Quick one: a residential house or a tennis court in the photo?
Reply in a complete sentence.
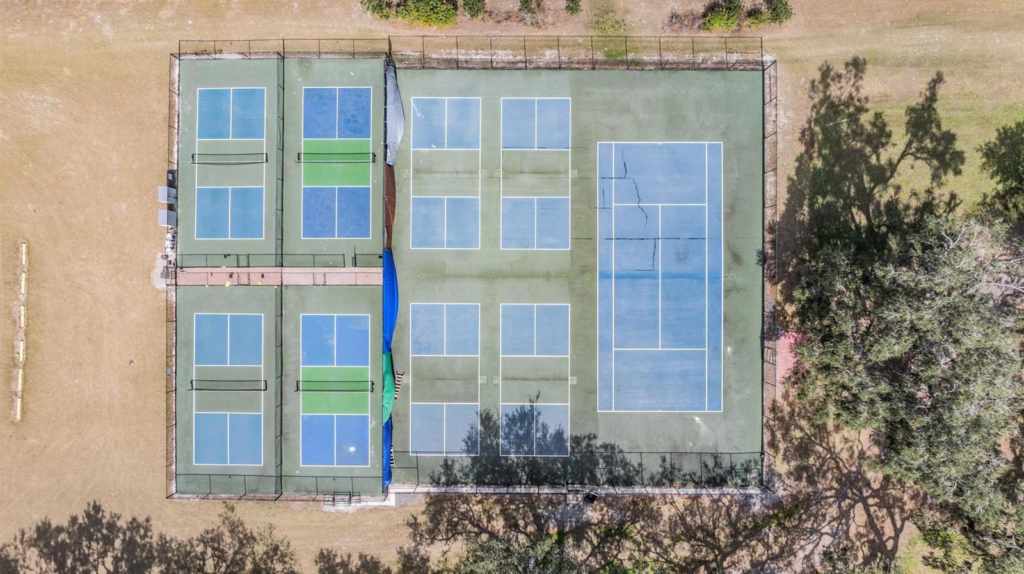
Visible in the photo is a tennis court.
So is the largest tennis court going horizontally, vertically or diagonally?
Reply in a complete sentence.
I'd say the largest tennis court is aligned vertically in the picture.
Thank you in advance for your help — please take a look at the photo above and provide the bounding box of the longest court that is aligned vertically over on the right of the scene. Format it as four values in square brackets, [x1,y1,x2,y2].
[597,142,723,412]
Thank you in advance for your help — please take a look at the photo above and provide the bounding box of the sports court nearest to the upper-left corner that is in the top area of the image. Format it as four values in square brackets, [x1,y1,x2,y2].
[195,87,265,239]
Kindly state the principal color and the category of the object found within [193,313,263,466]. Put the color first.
blue sports court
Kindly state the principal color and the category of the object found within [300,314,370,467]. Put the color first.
blue sports court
